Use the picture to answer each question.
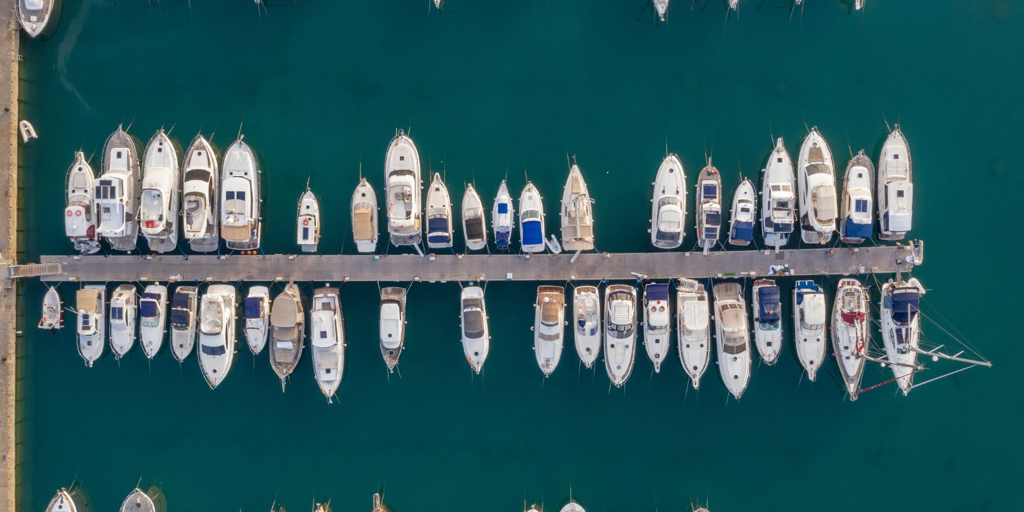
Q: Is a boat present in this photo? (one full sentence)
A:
Yes, this view includes a boat.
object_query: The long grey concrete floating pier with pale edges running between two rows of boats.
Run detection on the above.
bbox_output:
[40,243,912,284]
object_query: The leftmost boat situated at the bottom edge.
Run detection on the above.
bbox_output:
[46,486,80,512]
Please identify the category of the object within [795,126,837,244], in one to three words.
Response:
boat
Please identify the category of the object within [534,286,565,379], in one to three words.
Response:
boat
